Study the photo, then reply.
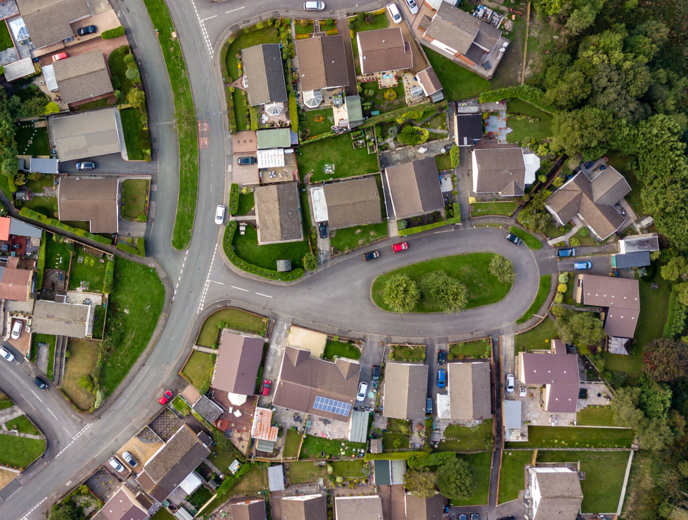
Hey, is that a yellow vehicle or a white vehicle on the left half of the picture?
white vehicle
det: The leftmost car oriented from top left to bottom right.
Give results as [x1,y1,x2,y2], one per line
[0,345,15,363]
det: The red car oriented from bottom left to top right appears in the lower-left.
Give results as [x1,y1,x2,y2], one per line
[158,389,172,405]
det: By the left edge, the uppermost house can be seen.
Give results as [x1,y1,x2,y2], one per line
[9,0,93,50]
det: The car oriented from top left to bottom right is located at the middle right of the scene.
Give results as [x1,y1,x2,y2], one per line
[504,232,522,246]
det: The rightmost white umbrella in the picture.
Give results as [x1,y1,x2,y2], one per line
[229,393,246,411]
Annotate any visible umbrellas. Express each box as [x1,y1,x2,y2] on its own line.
[229,393,246,411]
[27,237,39,248]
